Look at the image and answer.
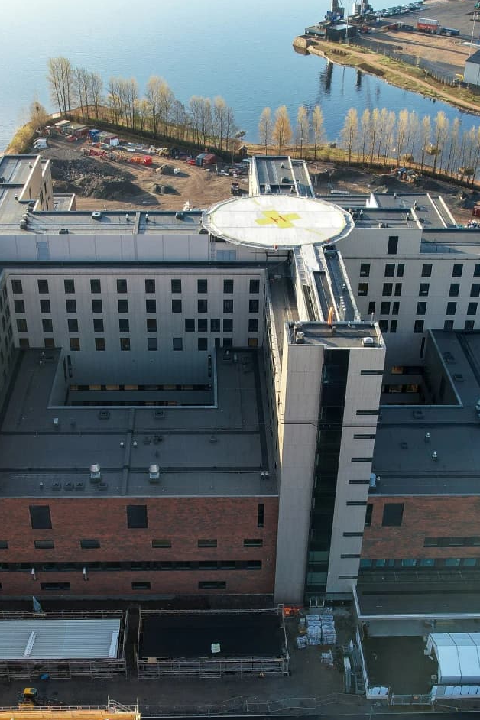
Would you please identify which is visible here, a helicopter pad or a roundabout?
helicopter pad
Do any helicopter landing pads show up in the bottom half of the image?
No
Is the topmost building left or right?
right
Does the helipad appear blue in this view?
No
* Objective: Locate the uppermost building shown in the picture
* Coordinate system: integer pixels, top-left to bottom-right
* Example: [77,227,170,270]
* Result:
[328,22,361,42]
